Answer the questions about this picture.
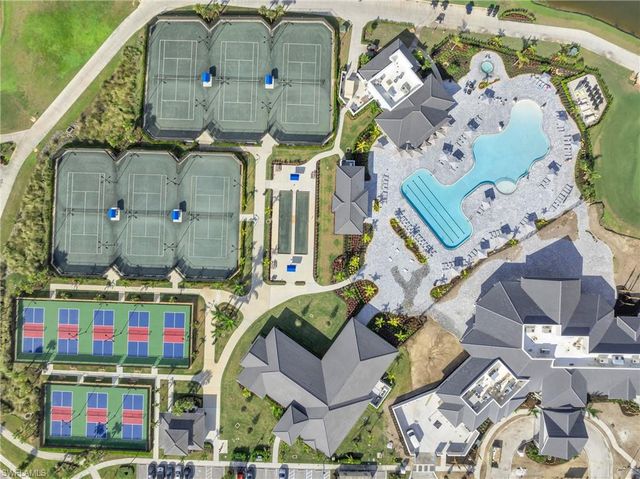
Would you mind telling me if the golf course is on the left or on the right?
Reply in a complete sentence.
It is on the right.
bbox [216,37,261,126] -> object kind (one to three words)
tennis court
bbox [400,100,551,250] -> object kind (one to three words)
swimming pool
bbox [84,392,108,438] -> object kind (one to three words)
sports court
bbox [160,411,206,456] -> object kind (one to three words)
building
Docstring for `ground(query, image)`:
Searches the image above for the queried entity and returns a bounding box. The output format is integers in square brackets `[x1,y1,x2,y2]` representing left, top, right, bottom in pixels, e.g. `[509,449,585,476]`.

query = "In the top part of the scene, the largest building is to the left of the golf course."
[359,39,456,149]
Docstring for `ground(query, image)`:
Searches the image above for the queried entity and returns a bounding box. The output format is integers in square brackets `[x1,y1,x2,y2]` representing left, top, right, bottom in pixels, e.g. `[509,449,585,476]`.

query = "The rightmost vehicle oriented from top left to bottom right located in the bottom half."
[406,431,422,452]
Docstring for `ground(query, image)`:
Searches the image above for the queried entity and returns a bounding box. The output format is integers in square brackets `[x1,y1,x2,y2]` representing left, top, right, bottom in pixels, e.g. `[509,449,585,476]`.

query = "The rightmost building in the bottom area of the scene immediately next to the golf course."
[437,278,640,430]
